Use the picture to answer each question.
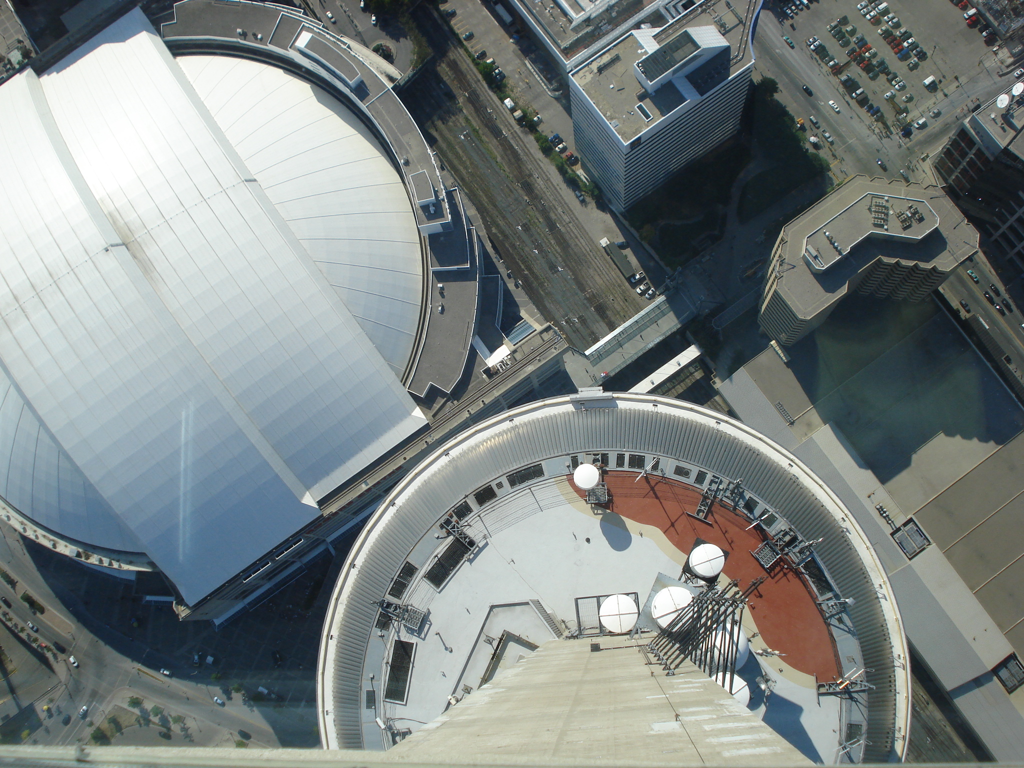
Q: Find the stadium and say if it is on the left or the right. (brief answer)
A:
left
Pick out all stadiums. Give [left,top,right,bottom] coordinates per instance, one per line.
[0,0,573,635]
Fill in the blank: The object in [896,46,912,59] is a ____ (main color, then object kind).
blue vehicle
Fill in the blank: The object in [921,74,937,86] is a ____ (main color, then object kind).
white vehicle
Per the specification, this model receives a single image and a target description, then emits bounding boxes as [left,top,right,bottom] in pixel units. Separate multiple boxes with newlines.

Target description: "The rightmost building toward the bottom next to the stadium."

[715,295,1024,764]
